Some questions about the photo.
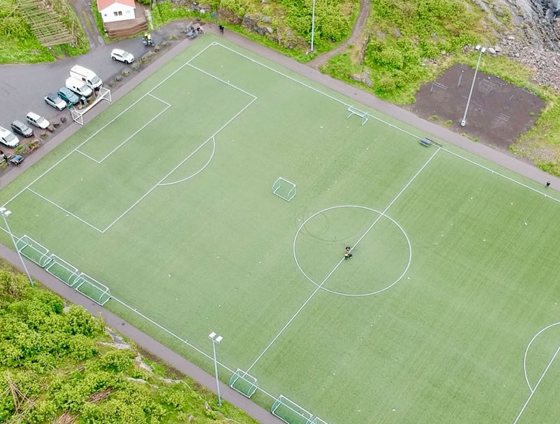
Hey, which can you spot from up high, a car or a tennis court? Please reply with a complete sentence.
The image shows a car.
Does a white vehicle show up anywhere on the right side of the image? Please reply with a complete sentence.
No, there's no white vehicle to be seen on the right side of the image.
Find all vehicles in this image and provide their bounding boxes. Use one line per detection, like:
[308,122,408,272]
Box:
[26,111,50,131]
[9,119,35,140]
[110,49,135,66]
[147,35,155,46]
[9,153,26,167]
[142,34,149,44]
[66,76,94,99]
[0,127,19,149]
[70,63,103,92]
[43,93,68,112]
[57,86,80,104]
